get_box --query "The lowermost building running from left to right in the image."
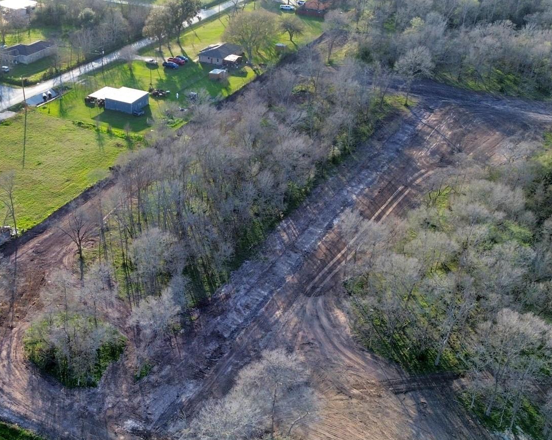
[91,86,151,114]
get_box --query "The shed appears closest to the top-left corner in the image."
[0,0,38,17]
